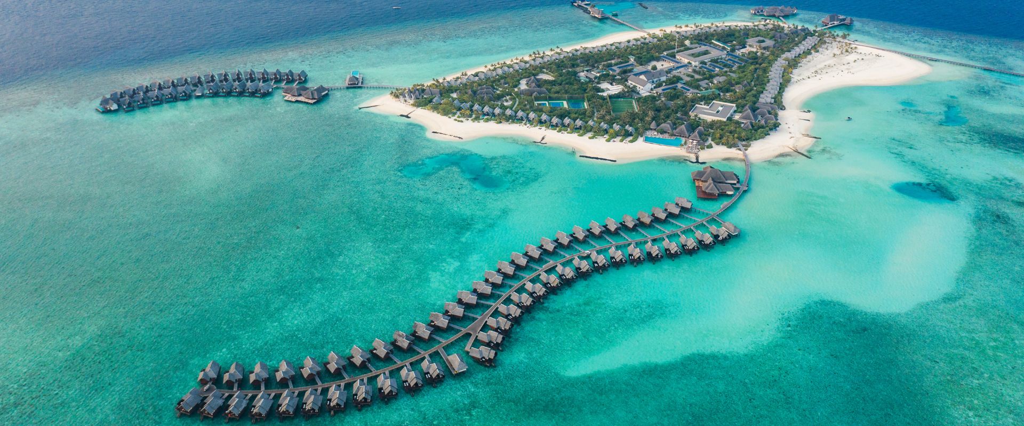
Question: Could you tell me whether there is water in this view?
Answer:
Yes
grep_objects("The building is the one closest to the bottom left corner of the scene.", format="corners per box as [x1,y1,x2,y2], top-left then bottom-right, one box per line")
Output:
[172,388,203,419]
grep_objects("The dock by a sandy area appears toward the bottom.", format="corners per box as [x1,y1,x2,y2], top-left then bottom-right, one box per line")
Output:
[199,142,751,398]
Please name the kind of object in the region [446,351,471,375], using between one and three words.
building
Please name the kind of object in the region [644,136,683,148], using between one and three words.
swimming pool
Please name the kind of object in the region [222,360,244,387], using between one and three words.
house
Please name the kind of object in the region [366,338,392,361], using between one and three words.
house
